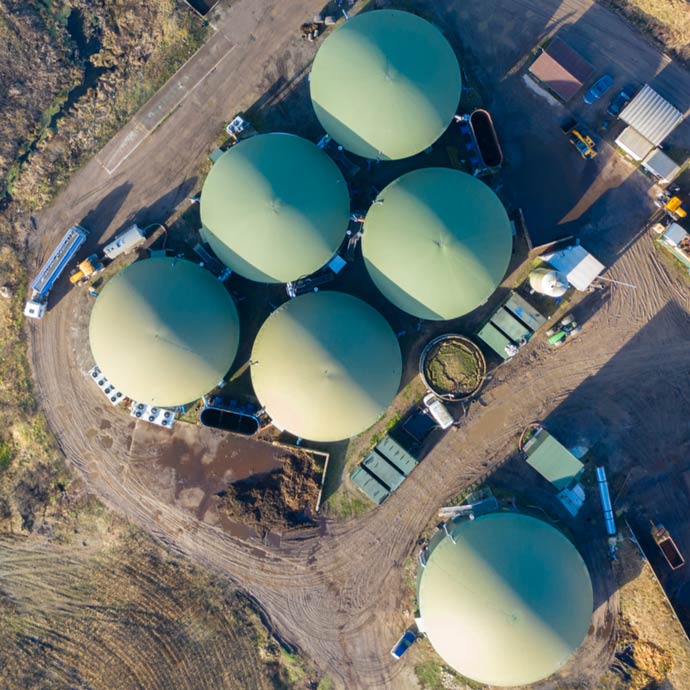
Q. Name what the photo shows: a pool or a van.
van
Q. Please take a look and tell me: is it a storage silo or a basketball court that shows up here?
storage silo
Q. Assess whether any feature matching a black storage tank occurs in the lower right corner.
No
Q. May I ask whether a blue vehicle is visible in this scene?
Yes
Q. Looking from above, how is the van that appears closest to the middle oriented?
diagonally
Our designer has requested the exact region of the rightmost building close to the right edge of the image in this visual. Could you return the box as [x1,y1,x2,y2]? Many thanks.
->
[644,148,680,181]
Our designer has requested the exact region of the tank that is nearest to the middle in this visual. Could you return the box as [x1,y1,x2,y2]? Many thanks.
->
[246,289,402,442]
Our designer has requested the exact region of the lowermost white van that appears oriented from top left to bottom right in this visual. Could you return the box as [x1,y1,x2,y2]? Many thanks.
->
[420,393,456,431]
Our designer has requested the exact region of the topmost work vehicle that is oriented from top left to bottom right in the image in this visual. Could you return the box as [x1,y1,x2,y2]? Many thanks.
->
[557,119,600,164]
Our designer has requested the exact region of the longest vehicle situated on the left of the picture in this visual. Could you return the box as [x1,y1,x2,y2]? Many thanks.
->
[24,224,91,319]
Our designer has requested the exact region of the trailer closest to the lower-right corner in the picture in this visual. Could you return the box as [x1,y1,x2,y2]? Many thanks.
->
[651,518,685,569]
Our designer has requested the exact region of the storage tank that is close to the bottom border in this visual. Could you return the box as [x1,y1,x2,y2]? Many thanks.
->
[413,505,594,688]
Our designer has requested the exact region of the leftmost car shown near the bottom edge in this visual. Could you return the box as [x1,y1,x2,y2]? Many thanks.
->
[389,627,416,658]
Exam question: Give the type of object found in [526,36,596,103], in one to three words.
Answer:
shed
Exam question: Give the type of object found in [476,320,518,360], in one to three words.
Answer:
shipping container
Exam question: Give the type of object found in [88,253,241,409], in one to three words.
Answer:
storage tank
